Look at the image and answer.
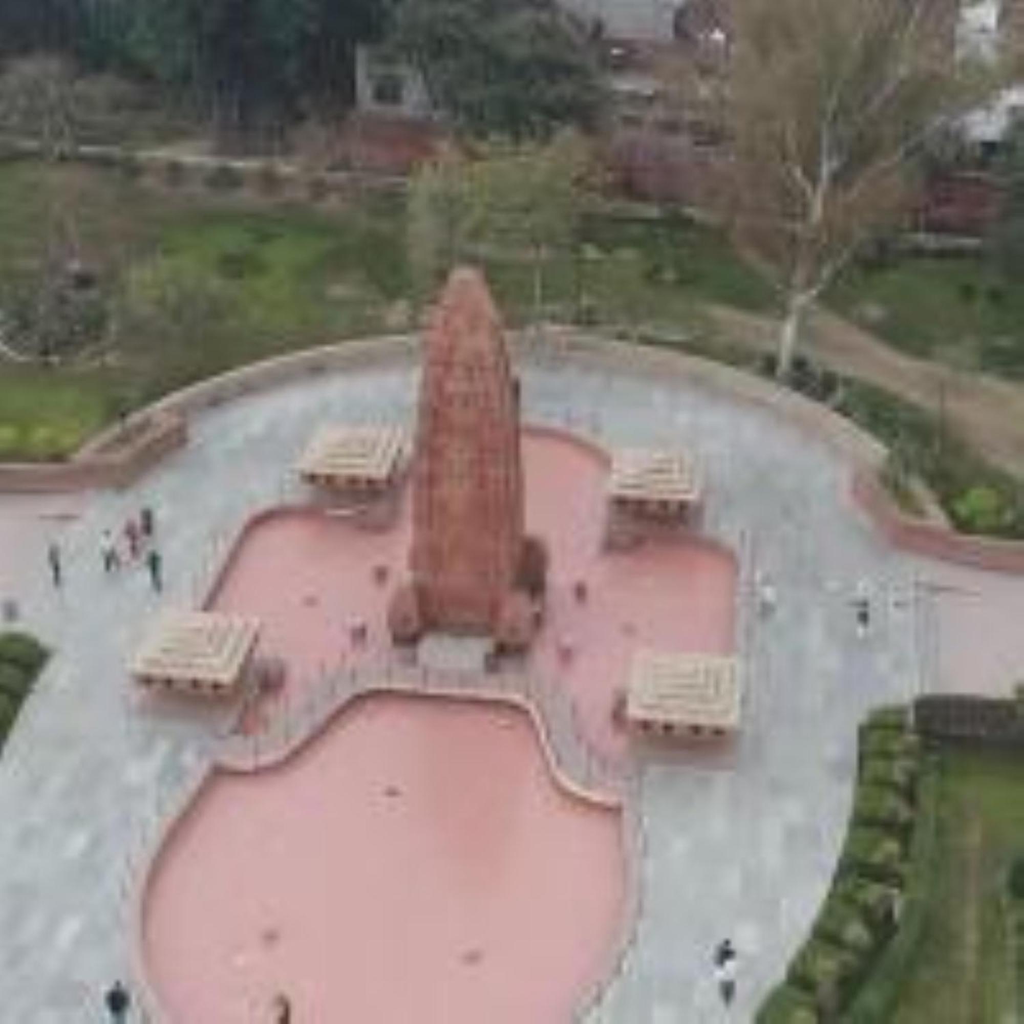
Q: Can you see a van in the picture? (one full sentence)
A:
No, this view has no van in it.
